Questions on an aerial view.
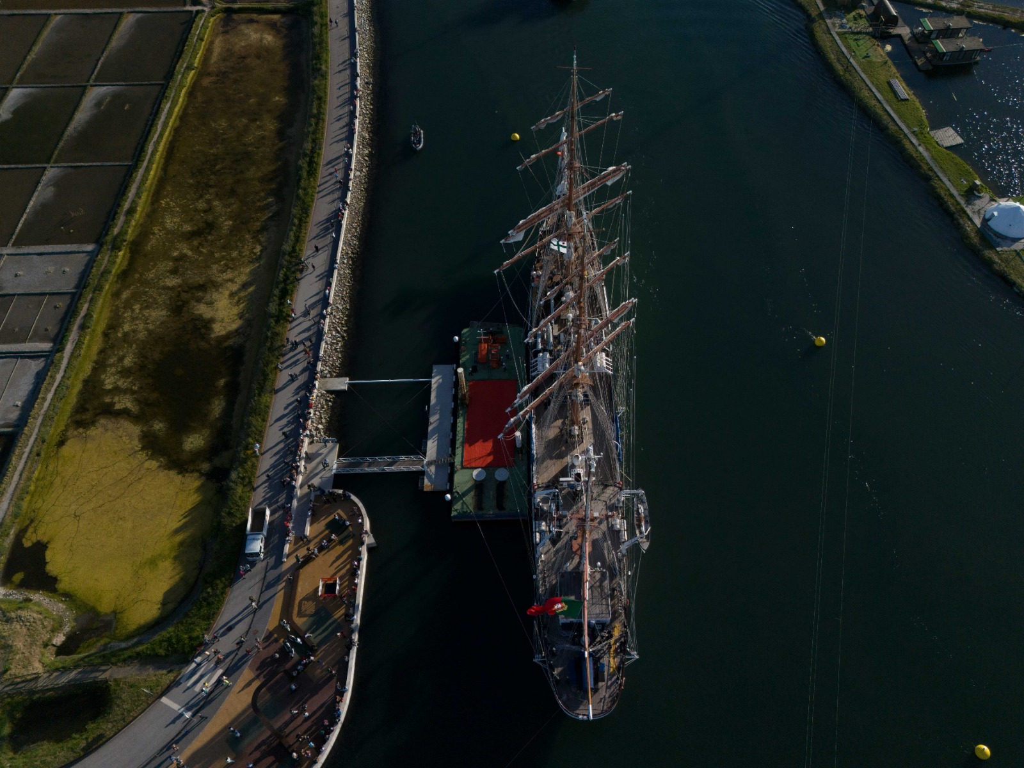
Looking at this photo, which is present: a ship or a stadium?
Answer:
ship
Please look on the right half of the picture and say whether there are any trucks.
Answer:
No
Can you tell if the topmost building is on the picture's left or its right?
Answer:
right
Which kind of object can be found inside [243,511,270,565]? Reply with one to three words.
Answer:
truck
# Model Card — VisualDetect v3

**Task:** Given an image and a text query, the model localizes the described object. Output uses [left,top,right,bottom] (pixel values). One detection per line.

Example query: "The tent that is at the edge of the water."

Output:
[987,198,1024,241]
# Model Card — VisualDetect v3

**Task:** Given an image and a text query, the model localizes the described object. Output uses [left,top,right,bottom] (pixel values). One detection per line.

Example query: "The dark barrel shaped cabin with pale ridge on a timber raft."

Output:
[866,0,905,28]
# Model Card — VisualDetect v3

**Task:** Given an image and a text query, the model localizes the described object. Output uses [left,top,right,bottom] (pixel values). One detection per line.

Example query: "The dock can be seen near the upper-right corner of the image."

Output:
[869,23,934,71]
